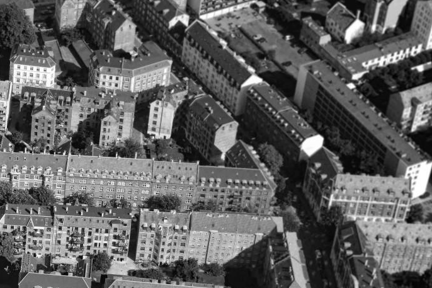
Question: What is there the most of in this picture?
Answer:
buildings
